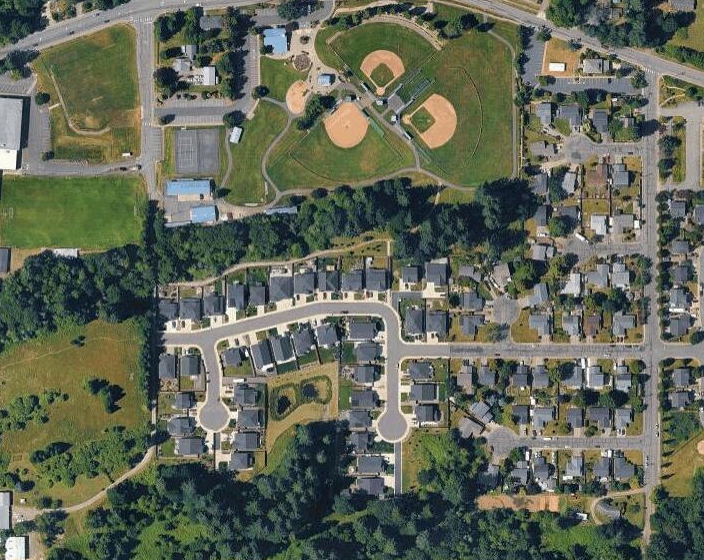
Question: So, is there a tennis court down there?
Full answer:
Yes, the photo shows a tennis court.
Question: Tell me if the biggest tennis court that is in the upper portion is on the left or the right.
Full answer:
The biggest tennis court that is in the upper portion sits on the left side.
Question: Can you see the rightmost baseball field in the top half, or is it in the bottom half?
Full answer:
You can find the rightmost baseball field in the top half.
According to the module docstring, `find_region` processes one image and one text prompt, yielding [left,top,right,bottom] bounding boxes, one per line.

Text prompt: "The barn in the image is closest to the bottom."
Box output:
[5,537,25,560]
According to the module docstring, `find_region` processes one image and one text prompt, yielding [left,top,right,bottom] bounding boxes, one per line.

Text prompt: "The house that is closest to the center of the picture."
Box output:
[343,270,362,290]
